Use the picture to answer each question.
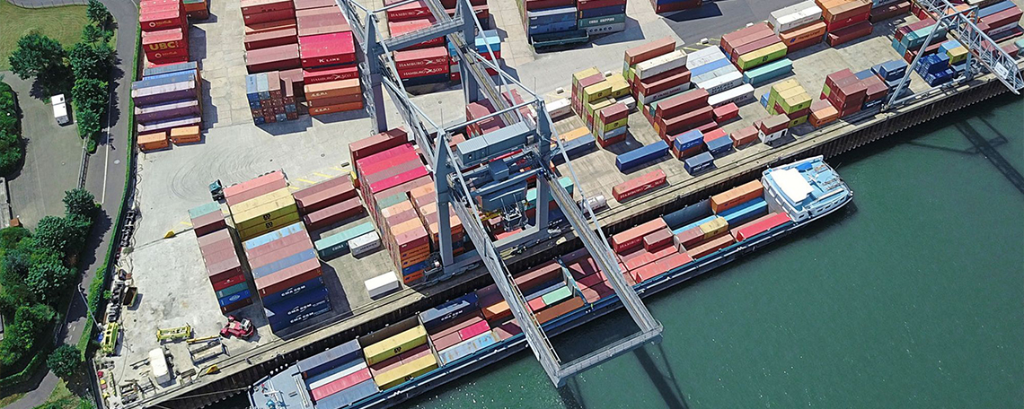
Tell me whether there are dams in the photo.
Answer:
No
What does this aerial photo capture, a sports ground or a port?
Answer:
port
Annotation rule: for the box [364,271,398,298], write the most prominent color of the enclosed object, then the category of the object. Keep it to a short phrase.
white shipping container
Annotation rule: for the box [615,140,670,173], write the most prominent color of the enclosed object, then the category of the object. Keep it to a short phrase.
blue shipping container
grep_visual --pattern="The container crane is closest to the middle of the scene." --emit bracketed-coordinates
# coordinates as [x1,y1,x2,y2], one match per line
[352,0,666,387]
